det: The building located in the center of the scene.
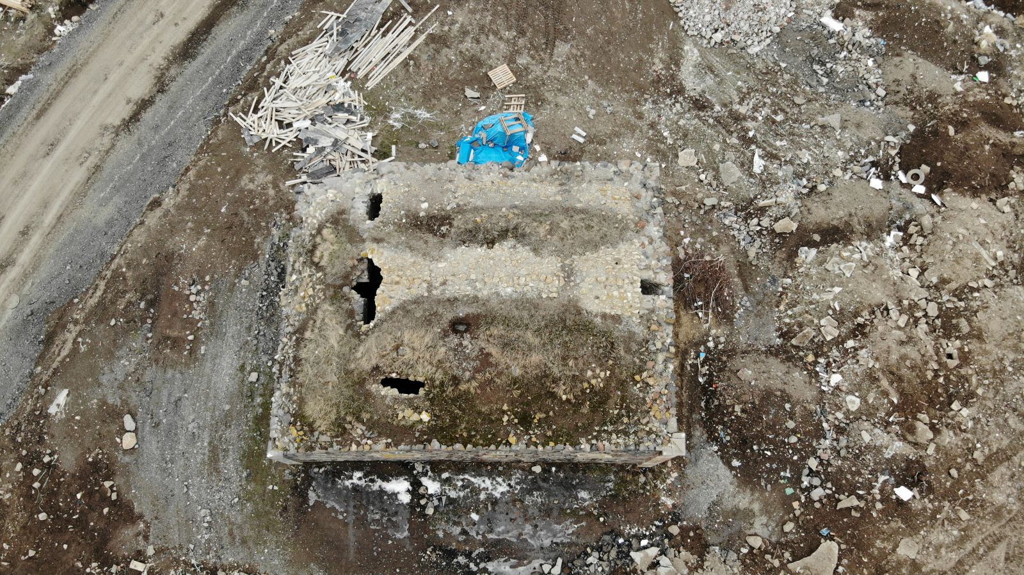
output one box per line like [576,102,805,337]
[266,154,687,468]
